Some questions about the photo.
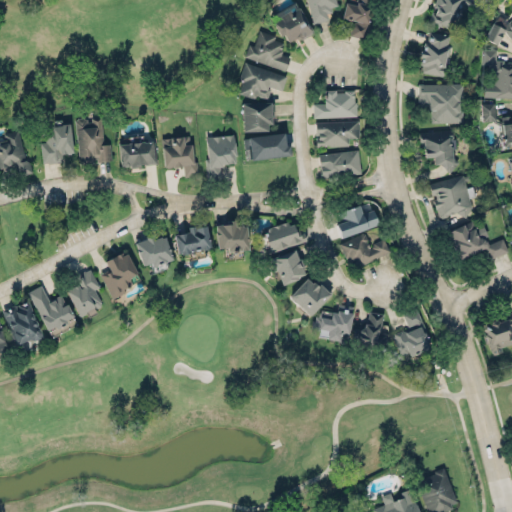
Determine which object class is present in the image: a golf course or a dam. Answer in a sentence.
I can see a golf course in this picture.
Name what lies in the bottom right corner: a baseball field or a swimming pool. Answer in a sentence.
There is a swimming pool in the bottom right corner.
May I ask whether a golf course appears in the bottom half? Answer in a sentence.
Yes, in the bottom half there is a golf course.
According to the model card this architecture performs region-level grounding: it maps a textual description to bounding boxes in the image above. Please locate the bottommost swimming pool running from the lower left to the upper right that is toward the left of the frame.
[122,282,148,301]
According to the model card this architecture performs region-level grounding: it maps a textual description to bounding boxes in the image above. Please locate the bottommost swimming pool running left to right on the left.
[188,254,215,269]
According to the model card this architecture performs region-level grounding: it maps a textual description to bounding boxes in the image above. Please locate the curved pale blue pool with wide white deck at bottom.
[368,474,401,499]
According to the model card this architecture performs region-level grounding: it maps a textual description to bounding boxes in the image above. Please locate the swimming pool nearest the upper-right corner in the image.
[486,124,503,146]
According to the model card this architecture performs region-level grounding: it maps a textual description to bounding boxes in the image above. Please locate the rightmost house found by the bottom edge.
[418,467,458,512]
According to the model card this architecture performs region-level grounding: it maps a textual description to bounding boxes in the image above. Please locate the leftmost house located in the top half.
[0,130,34,174]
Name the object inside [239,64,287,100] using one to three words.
house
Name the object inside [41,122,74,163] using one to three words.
house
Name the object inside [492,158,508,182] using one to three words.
swimming pool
